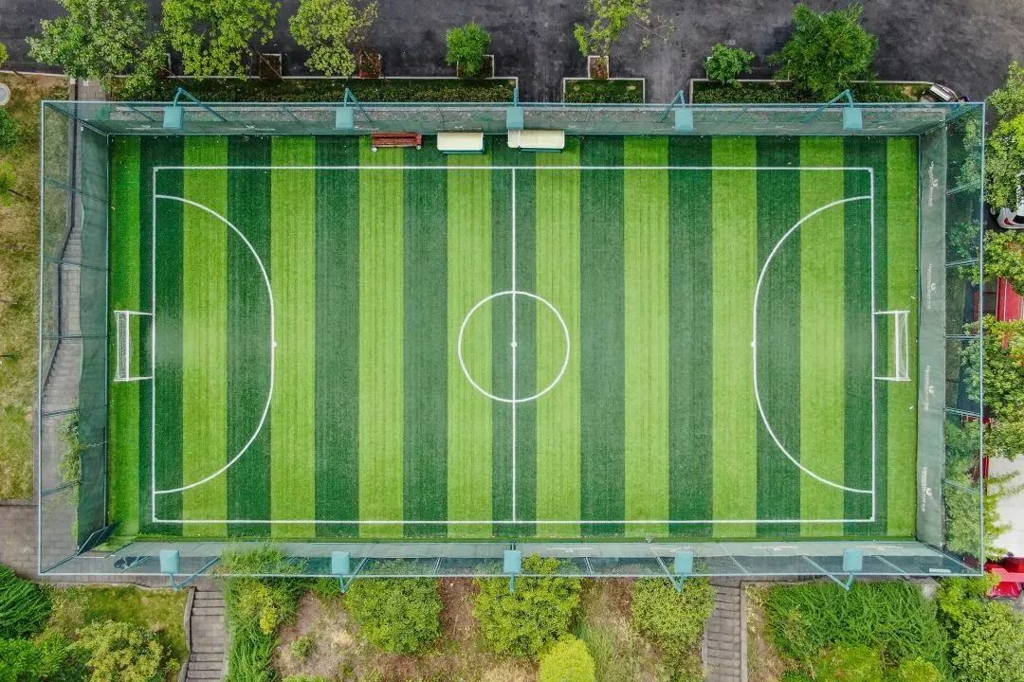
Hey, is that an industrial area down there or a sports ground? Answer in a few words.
sports ground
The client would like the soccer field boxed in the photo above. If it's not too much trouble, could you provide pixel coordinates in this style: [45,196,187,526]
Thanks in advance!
[108,135,919,547]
